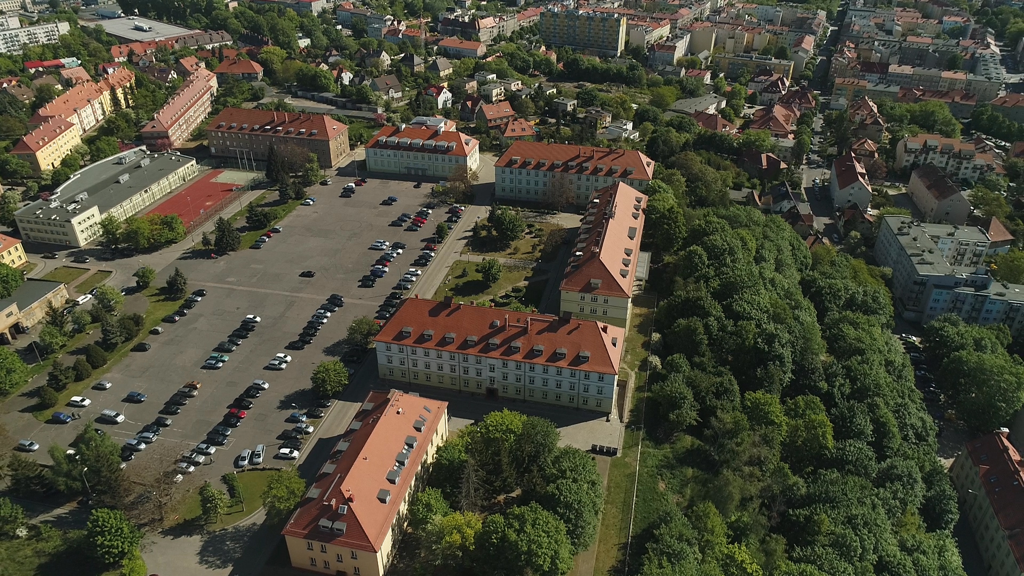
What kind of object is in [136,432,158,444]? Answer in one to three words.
vehicle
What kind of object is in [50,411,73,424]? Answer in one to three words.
vehicle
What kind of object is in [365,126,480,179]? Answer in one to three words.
building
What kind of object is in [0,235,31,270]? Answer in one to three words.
house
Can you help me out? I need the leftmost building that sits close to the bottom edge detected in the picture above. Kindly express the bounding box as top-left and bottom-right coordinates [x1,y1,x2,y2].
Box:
[281,389,450,576]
